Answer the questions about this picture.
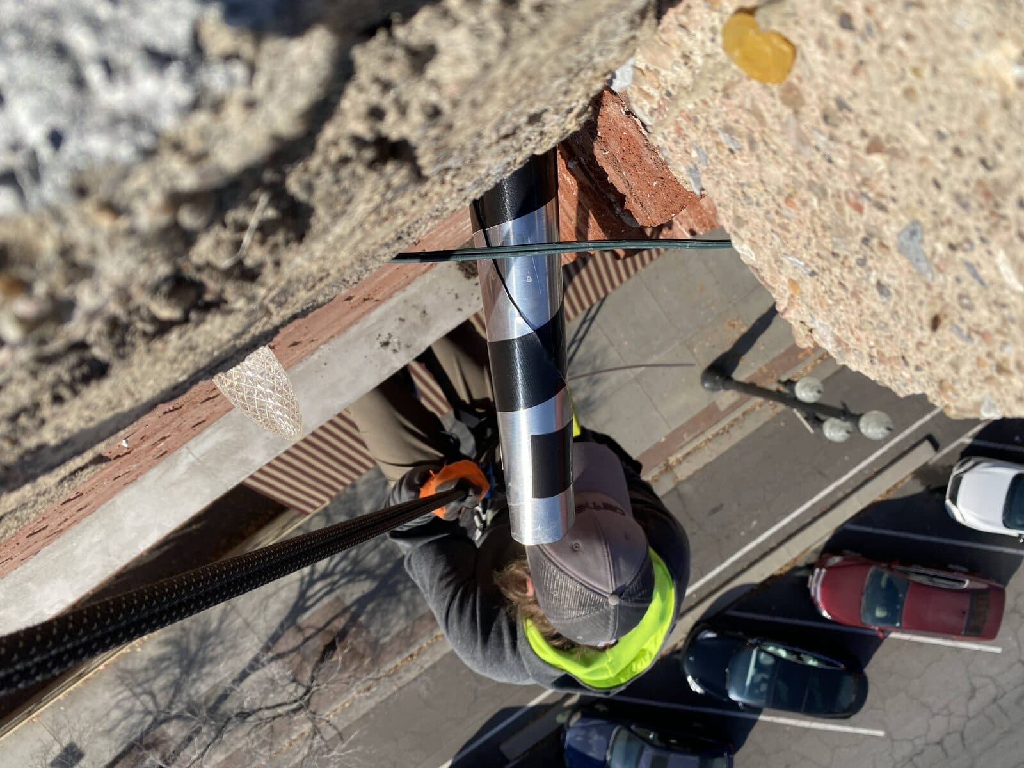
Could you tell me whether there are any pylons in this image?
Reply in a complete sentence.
No, the photo shows no pylon.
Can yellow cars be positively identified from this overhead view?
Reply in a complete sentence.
No, I can't see a single yellow car in this photo.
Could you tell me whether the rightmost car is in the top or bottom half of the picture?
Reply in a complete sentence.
You can find the rightmost car in the bottom half.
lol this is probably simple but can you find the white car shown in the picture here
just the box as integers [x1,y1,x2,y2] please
[940,466,1024,560]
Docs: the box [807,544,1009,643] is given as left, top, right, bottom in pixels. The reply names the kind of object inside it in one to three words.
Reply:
car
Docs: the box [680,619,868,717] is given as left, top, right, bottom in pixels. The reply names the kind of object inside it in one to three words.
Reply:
car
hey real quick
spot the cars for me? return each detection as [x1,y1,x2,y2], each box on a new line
[807,544,1009,643]
[940,466,1024,560]
[559,705,735,768]
[680,619,868,717]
